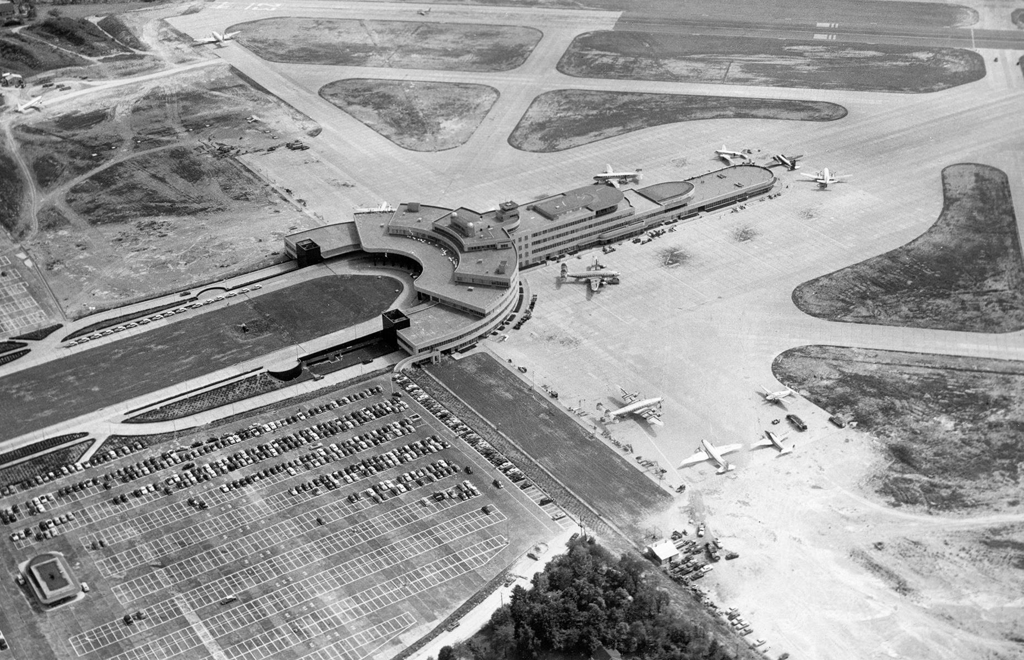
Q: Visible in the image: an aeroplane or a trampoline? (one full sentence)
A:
Visible in the photo is an aeroplane.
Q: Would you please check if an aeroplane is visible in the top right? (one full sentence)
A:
Yes, I can see an aeroplane in the top right.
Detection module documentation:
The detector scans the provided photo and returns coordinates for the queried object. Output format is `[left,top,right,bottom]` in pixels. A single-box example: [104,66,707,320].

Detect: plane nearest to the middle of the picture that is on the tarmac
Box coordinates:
[563,255,623,289]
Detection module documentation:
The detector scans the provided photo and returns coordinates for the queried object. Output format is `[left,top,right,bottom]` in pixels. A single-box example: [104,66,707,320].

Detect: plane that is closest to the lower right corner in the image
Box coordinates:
[746,429,798,456]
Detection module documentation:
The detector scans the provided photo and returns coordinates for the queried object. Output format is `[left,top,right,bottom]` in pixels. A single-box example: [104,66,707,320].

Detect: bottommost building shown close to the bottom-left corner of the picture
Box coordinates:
[18,550,86,617]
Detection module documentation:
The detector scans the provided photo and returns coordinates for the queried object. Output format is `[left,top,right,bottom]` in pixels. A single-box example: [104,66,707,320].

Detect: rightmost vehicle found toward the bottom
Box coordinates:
[830,413,846,428]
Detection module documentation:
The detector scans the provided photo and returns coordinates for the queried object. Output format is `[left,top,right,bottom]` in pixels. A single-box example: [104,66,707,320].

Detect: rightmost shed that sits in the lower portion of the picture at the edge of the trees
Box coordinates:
[647,539,680,567]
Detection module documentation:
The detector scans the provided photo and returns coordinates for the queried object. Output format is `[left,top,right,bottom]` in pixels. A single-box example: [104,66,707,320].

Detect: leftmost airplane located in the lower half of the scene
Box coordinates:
[604,382,674,425]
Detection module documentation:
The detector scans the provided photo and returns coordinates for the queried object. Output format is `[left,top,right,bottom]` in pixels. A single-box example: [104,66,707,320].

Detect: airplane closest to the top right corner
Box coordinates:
[798,165,850,181]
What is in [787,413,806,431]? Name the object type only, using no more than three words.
vehicle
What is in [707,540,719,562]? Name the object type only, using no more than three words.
vehicle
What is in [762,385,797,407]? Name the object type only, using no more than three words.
airplane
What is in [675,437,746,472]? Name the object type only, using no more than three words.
airplane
